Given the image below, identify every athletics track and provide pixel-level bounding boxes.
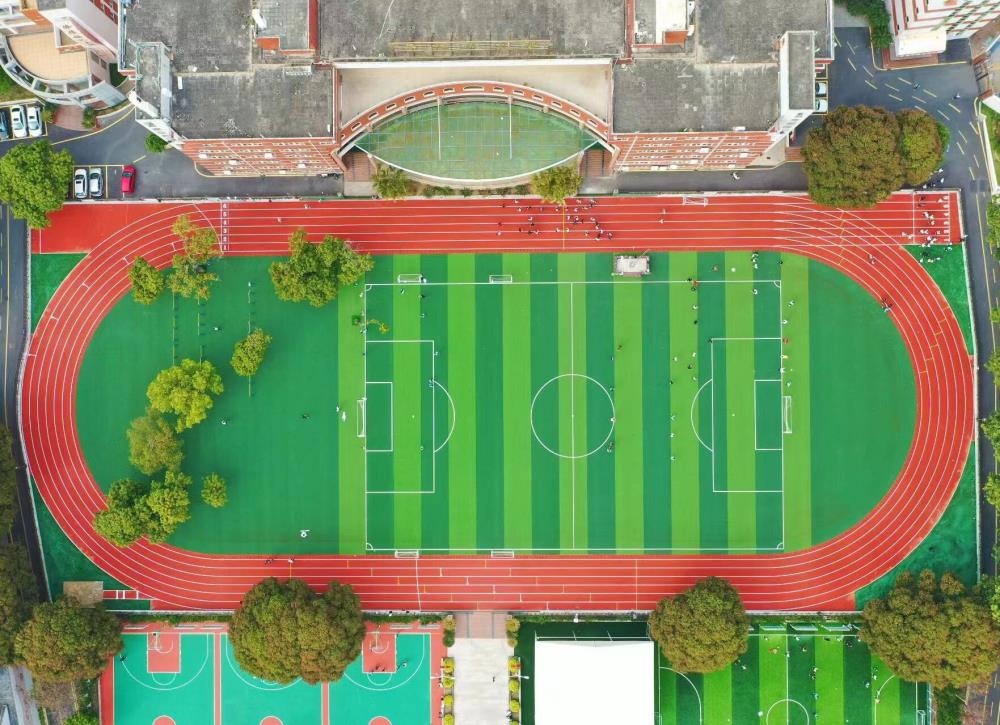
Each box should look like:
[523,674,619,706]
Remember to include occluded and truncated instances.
[21,192,976,612]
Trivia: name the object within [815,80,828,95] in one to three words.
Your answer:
vehicle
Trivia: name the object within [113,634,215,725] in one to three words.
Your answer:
basketball court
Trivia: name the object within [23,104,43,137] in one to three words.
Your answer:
car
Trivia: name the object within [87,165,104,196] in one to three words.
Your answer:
car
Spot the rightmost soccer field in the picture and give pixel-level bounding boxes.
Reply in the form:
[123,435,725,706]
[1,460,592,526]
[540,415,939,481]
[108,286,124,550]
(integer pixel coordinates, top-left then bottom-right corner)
[659,624,928,725]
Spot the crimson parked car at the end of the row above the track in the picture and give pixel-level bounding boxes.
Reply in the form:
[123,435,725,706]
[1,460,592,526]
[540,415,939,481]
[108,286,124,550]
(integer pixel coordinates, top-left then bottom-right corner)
[119,163,137,192]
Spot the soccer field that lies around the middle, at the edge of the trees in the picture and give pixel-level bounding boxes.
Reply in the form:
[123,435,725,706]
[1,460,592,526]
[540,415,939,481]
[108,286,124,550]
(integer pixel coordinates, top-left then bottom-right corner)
[339,249,812,556]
